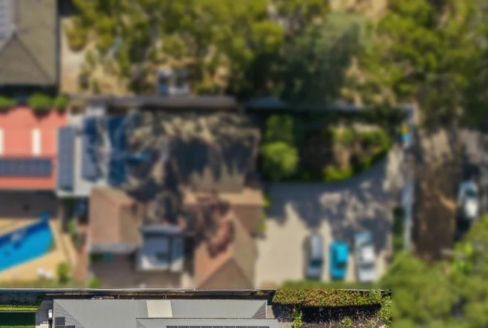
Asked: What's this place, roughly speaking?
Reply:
residential area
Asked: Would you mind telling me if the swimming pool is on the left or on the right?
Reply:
left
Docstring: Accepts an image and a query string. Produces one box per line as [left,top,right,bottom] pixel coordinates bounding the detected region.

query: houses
[0,0,59,92]
[0,104,67,193]
[88,111,264,289]
[48,299,280,328]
